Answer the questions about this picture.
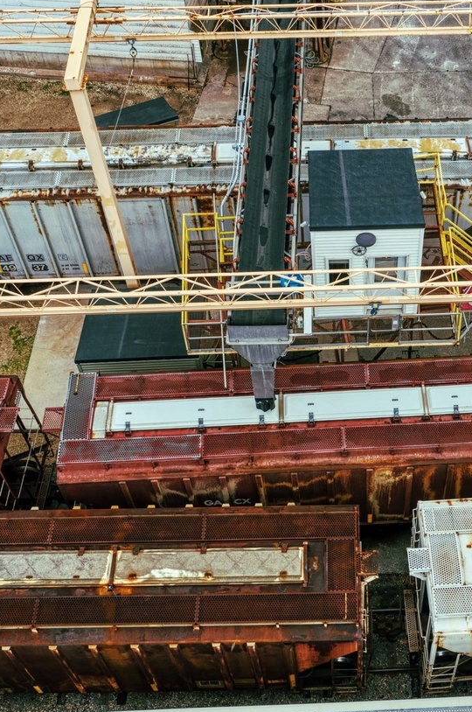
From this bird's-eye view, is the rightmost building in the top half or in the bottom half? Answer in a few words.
top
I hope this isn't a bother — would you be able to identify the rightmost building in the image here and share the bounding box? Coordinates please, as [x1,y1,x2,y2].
[290,148,440,322]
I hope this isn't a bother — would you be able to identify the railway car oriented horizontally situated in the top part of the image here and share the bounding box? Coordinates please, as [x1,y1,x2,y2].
[0,118,472,290]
